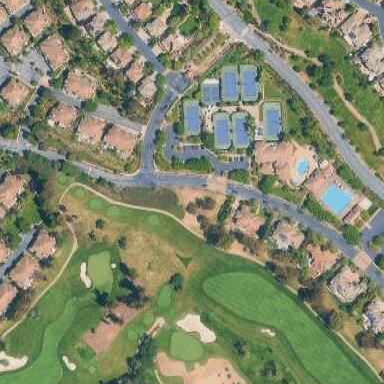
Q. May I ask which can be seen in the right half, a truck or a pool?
pool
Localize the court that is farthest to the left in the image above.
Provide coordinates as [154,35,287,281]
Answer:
[184,99,201,136]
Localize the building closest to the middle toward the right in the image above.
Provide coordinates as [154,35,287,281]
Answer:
[227,201,268,237]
